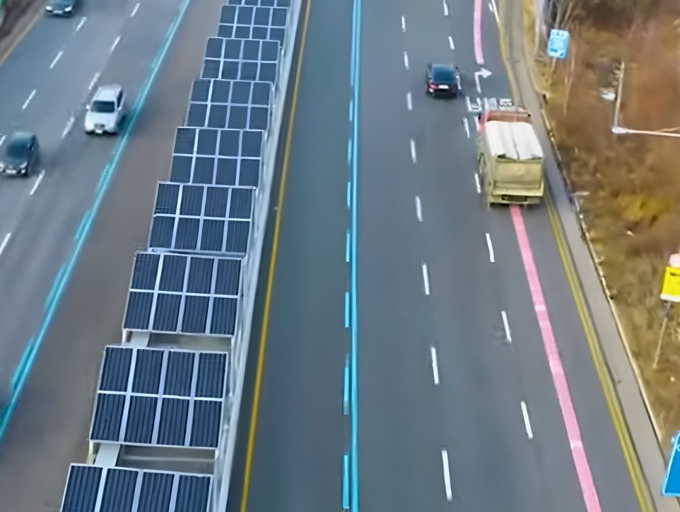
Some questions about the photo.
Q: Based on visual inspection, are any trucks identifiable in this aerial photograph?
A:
Yes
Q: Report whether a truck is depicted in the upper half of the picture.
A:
Yes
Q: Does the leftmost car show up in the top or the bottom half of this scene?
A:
top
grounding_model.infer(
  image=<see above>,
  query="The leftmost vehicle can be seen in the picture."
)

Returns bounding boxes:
[0,134,43,178]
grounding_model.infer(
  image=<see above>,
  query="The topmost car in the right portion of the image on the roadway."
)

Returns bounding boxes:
[423,65,458,97]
